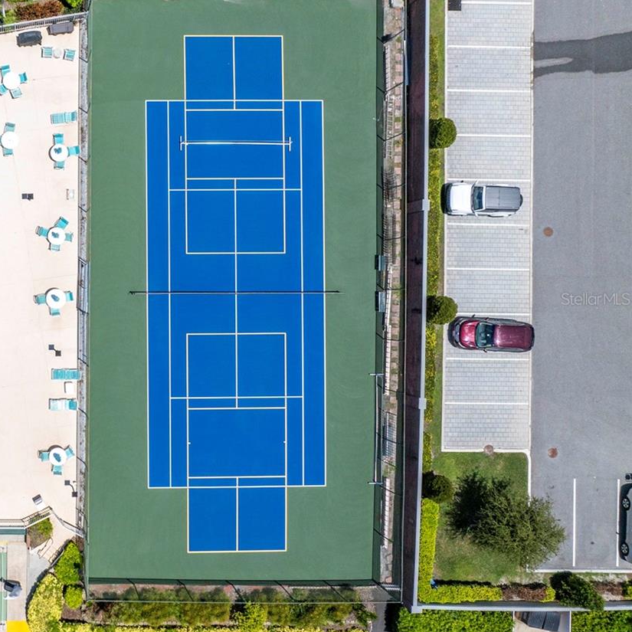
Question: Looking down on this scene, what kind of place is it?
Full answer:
This image shows a sports ground.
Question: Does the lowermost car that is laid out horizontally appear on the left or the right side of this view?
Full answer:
The lowermost car that is laid out horizontally sits on the right side.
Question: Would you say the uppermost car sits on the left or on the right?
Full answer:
The uppermost car appears in the right half of the scene.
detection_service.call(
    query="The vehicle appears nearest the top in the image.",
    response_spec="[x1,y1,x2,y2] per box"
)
[445,178,527,217]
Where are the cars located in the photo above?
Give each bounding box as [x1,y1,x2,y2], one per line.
[445,178,527,217]
[622,487,632,561]
[448,315,537,353]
